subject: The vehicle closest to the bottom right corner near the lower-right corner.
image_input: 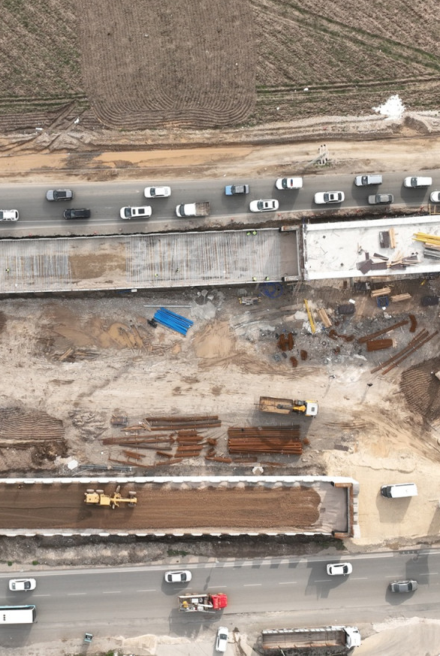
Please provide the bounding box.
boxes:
[387,578,417,593]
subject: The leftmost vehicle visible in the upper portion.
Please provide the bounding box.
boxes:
[0,208,19,221]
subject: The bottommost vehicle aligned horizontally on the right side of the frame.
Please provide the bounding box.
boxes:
[262,628,363,655]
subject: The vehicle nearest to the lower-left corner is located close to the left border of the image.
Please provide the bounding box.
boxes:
[0,603,39,624]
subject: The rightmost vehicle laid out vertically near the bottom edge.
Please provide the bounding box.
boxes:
[215,627,228,654]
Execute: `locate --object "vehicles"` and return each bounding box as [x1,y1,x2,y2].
[256,397,319,417]
[262,628,363,655]
[366,193,393,205]
[354,174,383,186]
[325,562,352,576]
[175,202,210,217]
[0,208,19,221]
[404,176,433,189]
[176,591,226,611]
[215,627,228,654]
[387,578,417,593]
[224,183,248,195]
[0,603,39,624]
[249,199,278,212]
[275,176,303,189]
[84,487,141,510]
[164,569,191,582]
[143,186,171,198]
[120,206,151,219]
[63,207,90,220]
[381,483,420,498]
[429,192,440,203]
[46,188,73,201]
[8,577,36,591]
[313,190,344,203]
